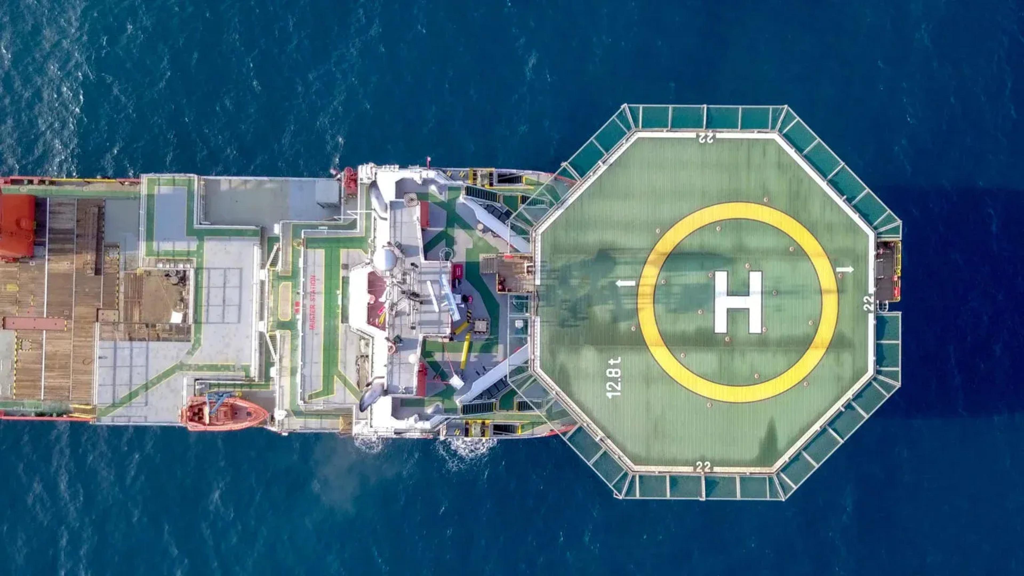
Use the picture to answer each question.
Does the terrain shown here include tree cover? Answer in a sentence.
No, tree cover can't be seen anywhere here.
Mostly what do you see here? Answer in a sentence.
For the most part, this view shows water.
